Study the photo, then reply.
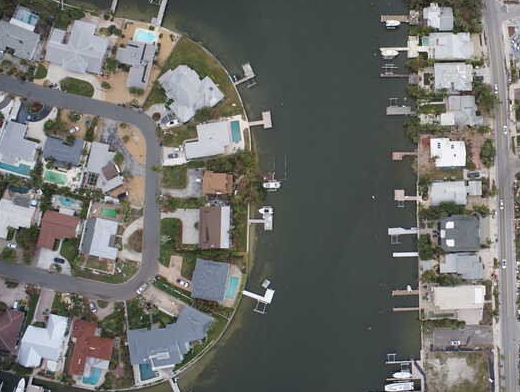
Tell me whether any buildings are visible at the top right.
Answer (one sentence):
Yes, I can see a building at the top right.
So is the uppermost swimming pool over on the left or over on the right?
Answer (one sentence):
The uppermost swimming pool is on the left side of the image.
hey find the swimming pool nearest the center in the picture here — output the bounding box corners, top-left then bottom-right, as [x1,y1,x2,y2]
[228,115,247,153]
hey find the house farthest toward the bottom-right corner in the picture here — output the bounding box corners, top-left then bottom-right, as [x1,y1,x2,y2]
[434,285,486,324]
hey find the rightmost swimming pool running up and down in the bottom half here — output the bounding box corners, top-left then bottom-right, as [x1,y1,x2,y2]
[226,263,245,302]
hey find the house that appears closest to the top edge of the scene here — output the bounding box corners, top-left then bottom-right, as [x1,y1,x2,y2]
[423,3,454,31]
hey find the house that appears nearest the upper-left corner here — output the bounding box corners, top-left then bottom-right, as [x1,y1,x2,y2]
[0,17,43,64]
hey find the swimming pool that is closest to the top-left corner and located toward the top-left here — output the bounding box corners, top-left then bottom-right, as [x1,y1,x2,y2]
[10,5,40,27]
